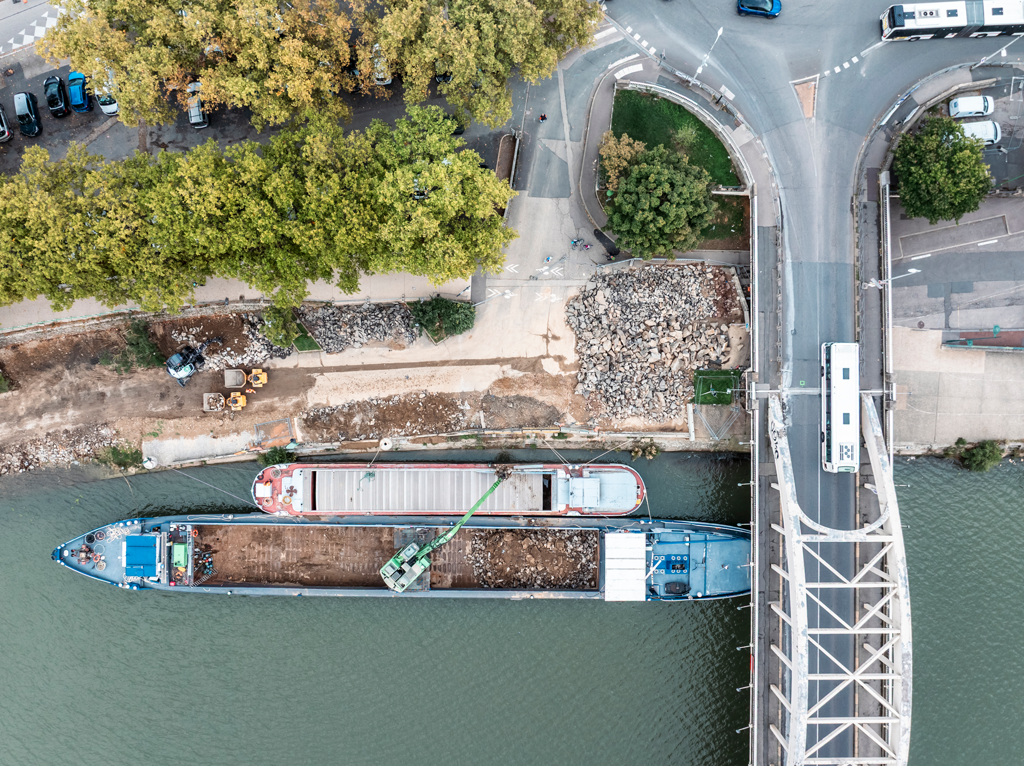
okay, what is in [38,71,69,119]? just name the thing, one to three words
car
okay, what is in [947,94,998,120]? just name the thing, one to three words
vehicle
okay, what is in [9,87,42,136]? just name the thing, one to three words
car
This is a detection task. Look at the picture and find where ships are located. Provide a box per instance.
[47,512,747,602]
[250,462,647,516]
